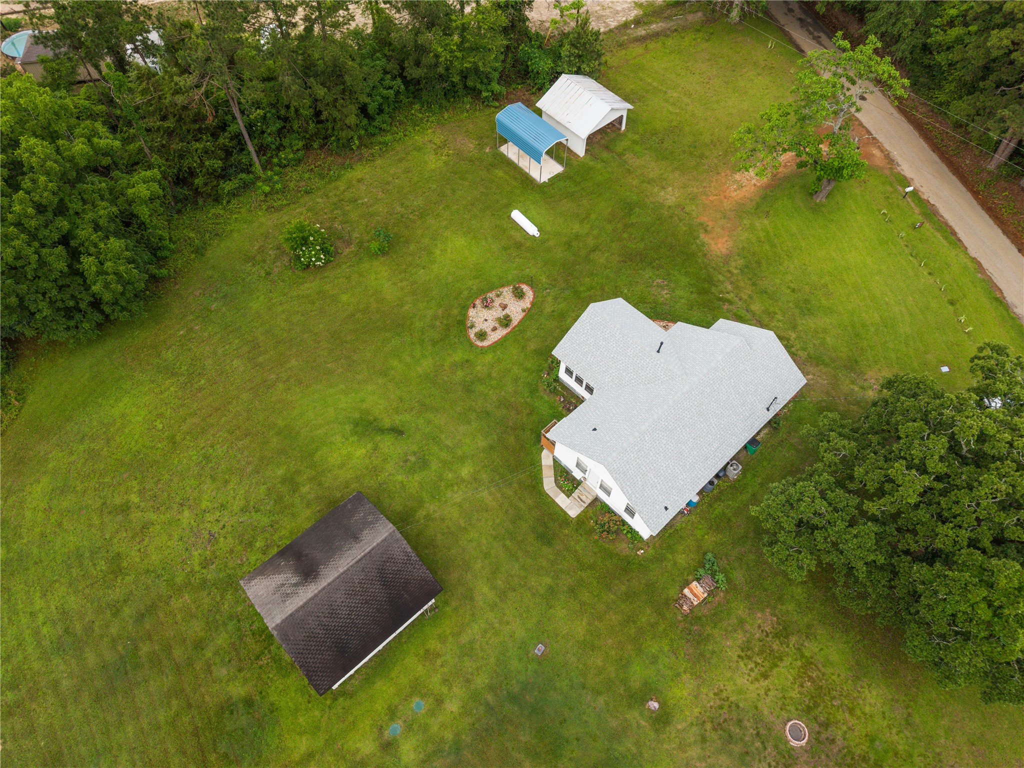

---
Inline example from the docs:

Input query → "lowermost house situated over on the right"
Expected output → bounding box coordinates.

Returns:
[544,297,808,542]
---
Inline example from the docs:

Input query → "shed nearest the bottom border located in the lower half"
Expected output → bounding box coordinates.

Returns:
[240,492,443,695]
